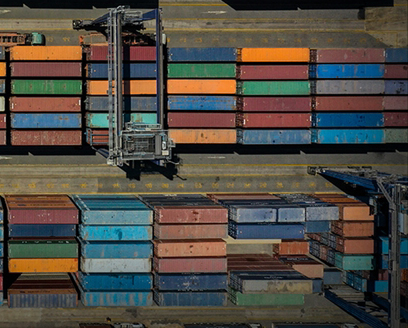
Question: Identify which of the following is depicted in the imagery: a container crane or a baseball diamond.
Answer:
container crane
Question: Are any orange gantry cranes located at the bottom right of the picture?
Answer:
No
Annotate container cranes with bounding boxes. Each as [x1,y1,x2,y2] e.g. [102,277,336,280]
[303,165,408,328]
[71,6,177,171]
